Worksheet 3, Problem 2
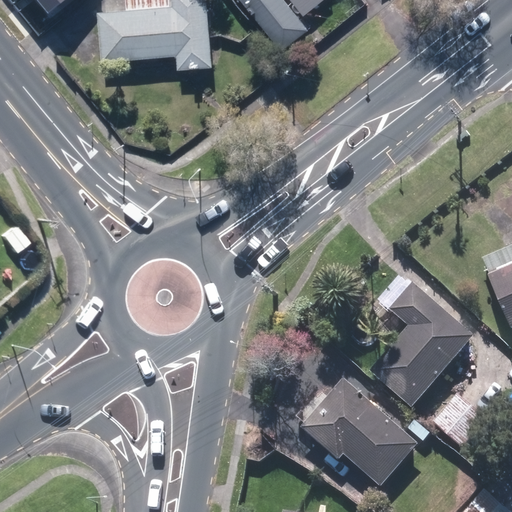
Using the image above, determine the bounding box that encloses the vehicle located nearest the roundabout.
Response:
[204,282,224,315]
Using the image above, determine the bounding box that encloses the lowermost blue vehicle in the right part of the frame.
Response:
[324,454,350,478]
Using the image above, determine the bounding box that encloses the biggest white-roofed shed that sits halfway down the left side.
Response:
[6,227,30,253]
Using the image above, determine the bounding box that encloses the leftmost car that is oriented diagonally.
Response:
[78,296,104,327]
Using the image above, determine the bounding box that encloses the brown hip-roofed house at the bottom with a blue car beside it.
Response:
[296,377,418,486]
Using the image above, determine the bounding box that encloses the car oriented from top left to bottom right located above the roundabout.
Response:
[120,202,154,229]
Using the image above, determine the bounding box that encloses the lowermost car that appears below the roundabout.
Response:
[148,478,162,509]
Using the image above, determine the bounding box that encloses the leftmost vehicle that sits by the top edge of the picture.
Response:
[464,11,492,36]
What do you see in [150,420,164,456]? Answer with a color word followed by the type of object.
white vehicle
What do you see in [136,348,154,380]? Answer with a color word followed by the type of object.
white car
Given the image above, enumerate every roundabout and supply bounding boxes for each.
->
[126,258,204,336]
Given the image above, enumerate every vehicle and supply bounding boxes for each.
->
[324,454,350,478]
[136,348,154,380]
[232,235,262,266]
[120,202,154,229]
[464,11,492,36]
[323,158,354,184]
[256,237,288,268]
[78,296,104,327]
[476,382,504,406]
[196,199,230,226]
[204,282,224,315]
[40,404,69,418]
[150,420,164,456]
[148,478,162,509]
